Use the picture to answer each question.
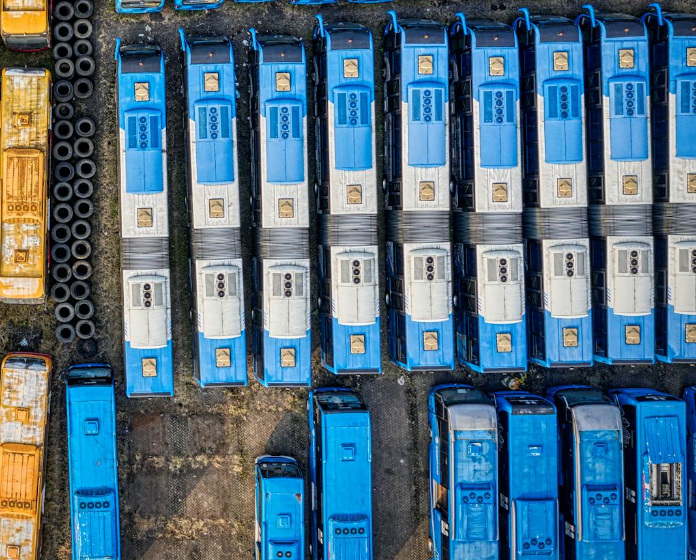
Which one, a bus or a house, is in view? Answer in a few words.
bus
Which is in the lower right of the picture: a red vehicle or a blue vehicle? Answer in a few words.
blue vehicle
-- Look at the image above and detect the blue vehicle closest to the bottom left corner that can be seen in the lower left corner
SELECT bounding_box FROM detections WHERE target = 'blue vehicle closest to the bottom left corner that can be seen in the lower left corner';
[62,364,121,560]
